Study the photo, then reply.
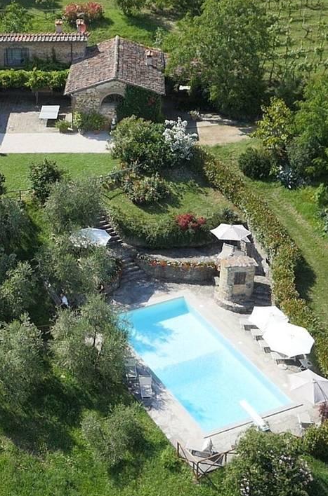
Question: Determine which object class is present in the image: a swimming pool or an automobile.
swimming pool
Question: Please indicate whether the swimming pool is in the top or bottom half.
bottom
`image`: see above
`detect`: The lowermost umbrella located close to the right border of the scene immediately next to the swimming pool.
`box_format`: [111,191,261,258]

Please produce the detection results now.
[293,368,328,411]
